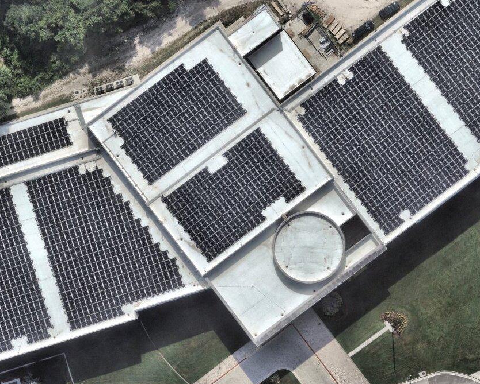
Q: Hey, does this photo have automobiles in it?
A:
Yes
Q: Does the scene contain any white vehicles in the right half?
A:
No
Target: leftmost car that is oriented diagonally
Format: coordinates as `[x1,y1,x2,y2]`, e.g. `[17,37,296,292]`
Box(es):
[351,21,373,38]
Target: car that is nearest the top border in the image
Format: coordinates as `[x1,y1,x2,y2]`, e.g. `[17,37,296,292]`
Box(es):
[377,2,399,18]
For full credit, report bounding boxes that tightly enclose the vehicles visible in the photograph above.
[377,2,399,18]
[351,21,373,38]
